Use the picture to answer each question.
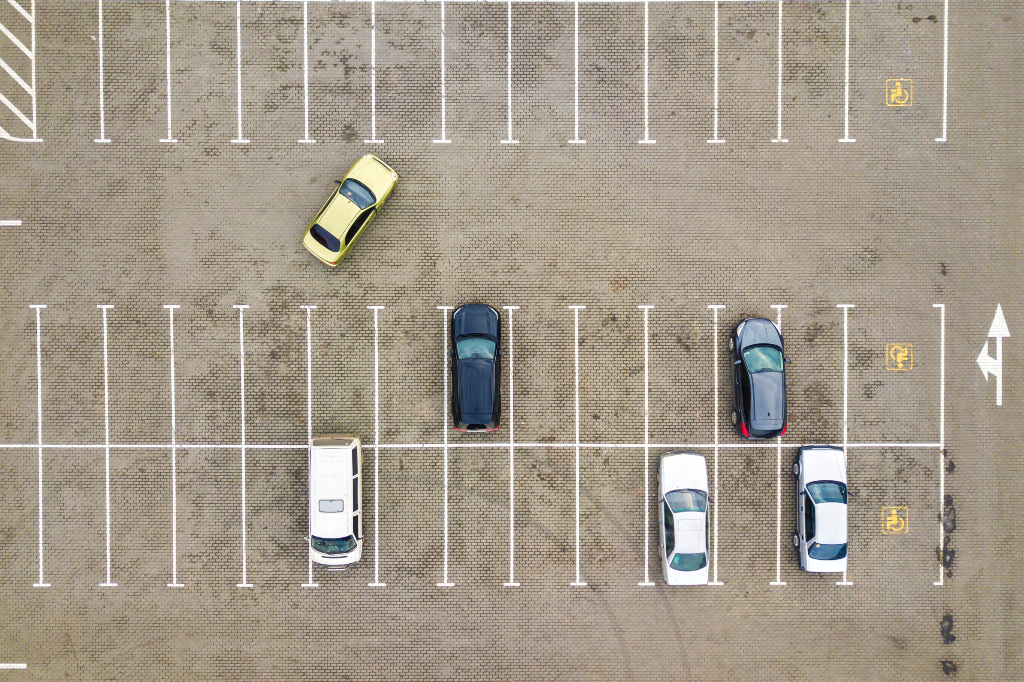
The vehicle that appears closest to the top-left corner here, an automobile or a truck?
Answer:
automobile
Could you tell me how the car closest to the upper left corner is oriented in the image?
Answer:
on a diagonal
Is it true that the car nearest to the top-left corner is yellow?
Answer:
Yes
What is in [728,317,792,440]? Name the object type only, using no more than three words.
car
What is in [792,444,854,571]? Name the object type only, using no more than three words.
car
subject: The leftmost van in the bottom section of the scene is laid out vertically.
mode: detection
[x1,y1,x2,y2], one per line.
[304,431,367,571]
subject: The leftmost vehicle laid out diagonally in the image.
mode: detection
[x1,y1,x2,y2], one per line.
[301,153,398,266]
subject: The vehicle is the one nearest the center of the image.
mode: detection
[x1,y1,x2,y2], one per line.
[448,303,505,434]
